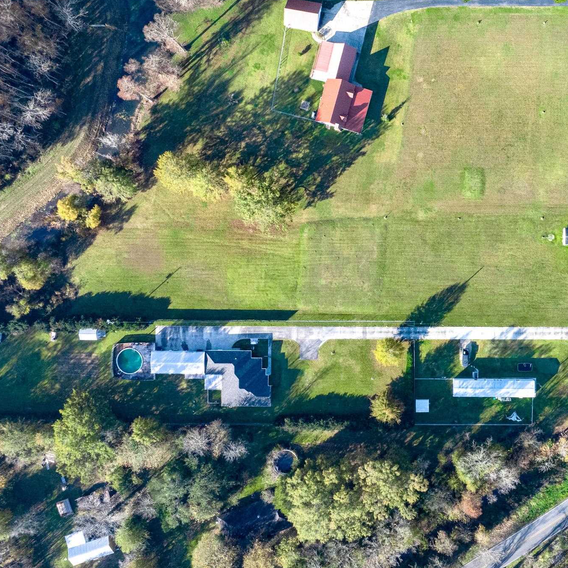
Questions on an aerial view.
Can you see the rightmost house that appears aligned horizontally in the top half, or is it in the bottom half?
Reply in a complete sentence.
Seen from above, the rightmost house that appears aligned horizontally lies in the bottom half of the view.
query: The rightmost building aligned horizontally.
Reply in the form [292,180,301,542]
[453,372,536,401]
